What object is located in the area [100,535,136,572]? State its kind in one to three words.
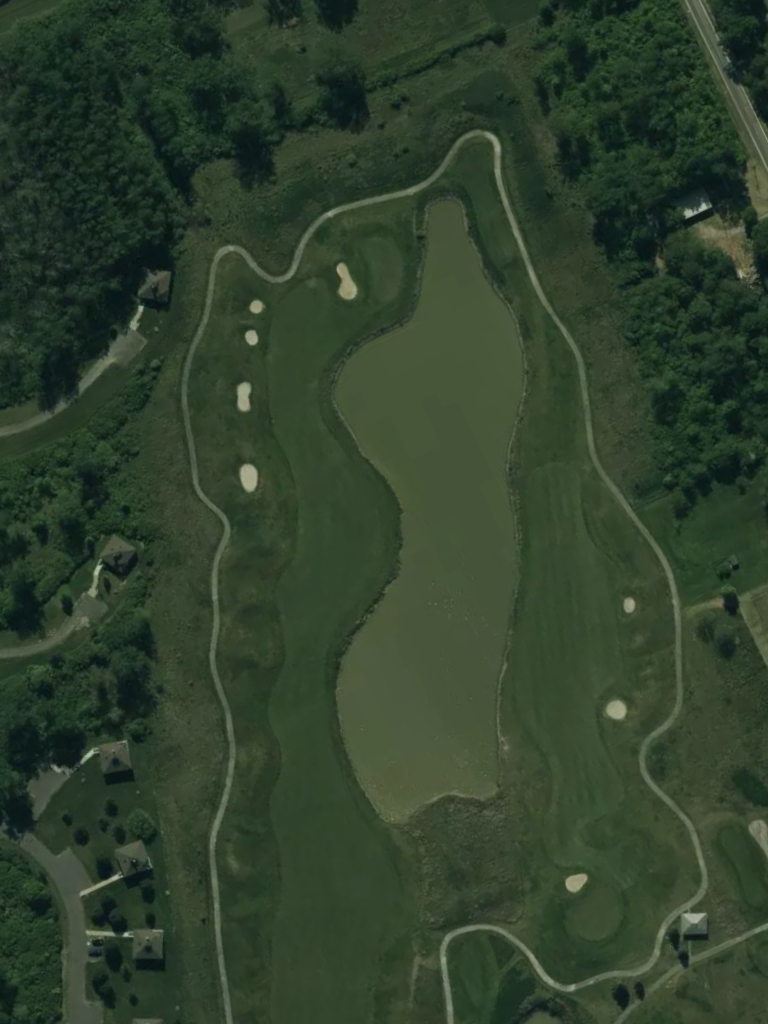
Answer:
building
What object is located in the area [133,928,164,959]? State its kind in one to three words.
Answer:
building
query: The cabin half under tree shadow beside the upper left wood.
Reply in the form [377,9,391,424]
[138,269,171,301]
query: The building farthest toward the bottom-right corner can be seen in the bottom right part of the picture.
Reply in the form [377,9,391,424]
[681,913,707,934]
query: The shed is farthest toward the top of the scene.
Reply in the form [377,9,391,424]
[676,186,712,219]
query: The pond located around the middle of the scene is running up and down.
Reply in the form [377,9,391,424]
[336,200,524,821]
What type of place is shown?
golf course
